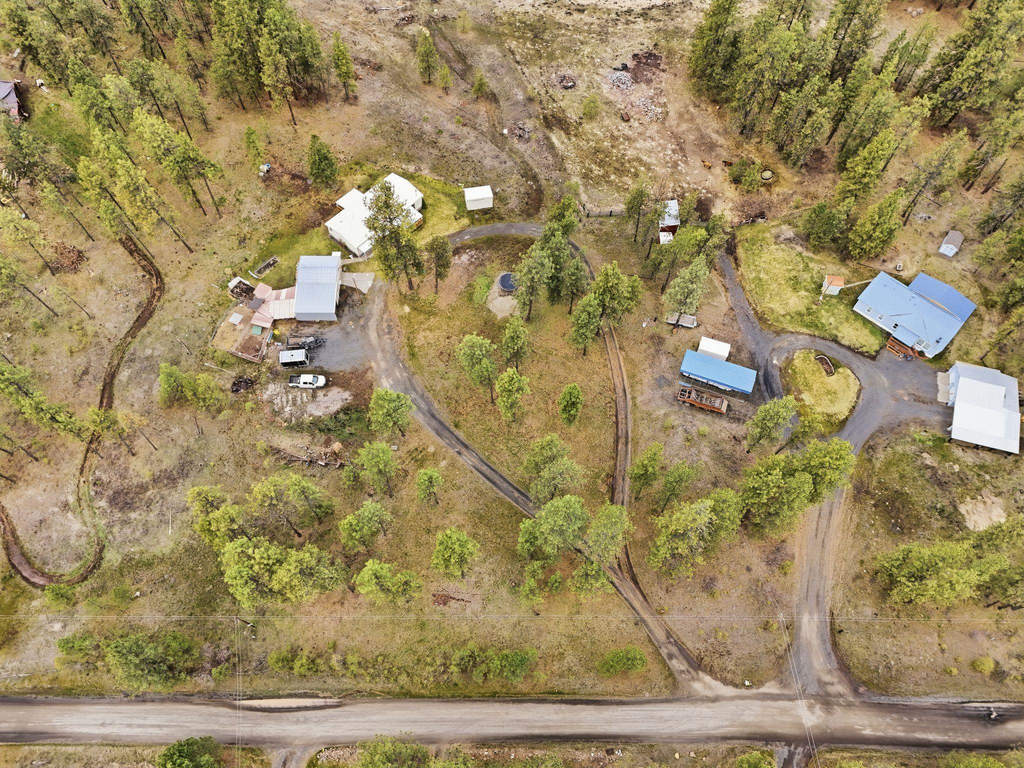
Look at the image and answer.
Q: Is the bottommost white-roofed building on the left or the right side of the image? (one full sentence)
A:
You can find the bottommost white-roofed building on the right side of the picture.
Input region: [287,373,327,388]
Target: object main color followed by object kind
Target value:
white vehicle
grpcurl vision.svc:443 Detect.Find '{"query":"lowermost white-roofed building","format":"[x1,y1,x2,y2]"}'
[942,361,1023,462]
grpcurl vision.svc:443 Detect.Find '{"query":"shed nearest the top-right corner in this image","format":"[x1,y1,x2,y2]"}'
[939,231,965,257]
